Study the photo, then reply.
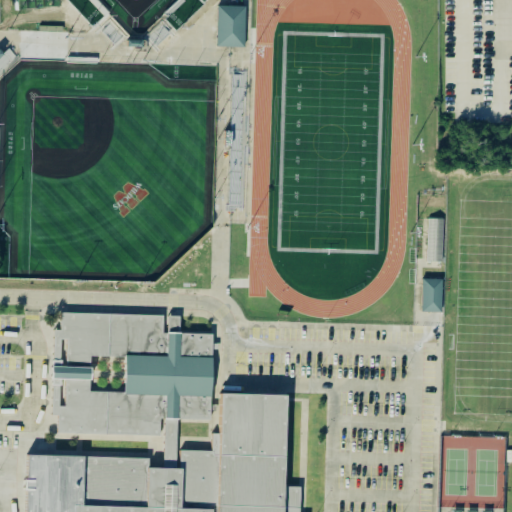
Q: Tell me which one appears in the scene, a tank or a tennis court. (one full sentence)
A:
The image shows a tennis court.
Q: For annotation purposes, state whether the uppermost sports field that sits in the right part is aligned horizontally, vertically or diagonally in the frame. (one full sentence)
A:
From this overhead view, the uppermost sports field that sits in the right part appears to run vertically.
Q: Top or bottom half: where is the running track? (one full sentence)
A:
The running track sits in the top half of the picture.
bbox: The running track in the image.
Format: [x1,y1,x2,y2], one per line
[250,0,413,318]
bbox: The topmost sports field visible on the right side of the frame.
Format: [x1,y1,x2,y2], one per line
[268,22,394,300]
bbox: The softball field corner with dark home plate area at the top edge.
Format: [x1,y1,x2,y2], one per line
[106,0,178,34]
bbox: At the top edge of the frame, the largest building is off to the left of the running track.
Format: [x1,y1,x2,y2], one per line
[217,6,246,47]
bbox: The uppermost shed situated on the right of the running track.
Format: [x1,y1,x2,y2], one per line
[426,218,444,262]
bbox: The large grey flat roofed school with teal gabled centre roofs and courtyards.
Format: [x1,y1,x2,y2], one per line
[22,313,302,512]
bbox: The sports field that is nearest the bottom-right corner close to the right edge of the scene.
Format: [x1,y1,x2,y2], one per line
[443,178,512,432]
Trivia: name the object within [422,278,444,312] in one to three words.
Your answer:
building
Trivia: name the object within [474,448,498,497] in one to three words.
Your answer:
tennis court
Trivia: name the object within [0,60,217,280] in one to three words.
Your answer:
baseball field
